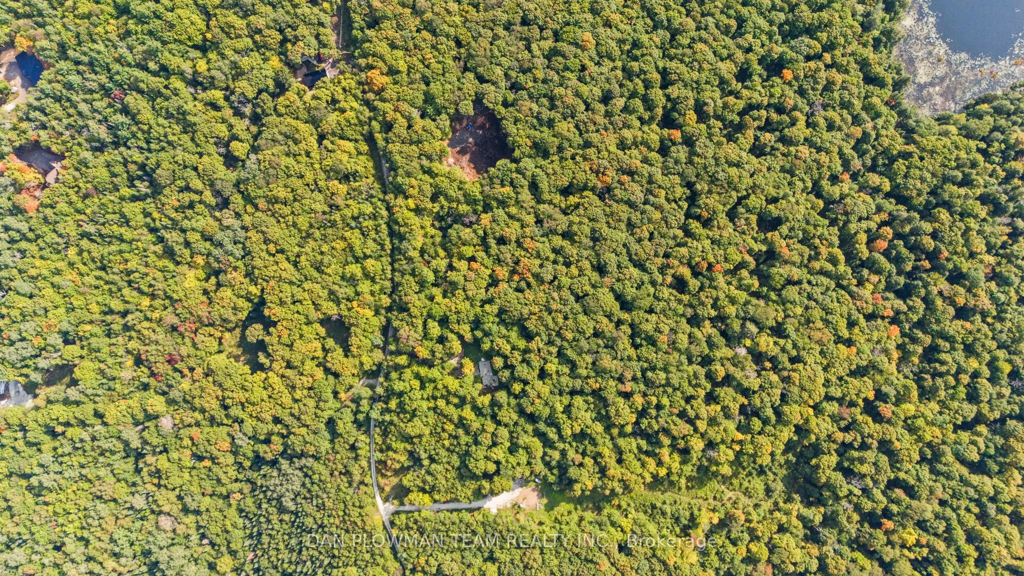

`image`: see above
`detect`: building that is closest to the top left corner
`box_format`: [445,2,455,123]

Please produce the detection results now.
[8,49,44,85]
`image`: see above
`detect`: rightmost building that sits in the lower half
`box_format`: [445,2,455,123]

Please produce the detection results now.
[478,360,501,388]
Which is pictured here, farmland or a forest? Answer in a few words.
forest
